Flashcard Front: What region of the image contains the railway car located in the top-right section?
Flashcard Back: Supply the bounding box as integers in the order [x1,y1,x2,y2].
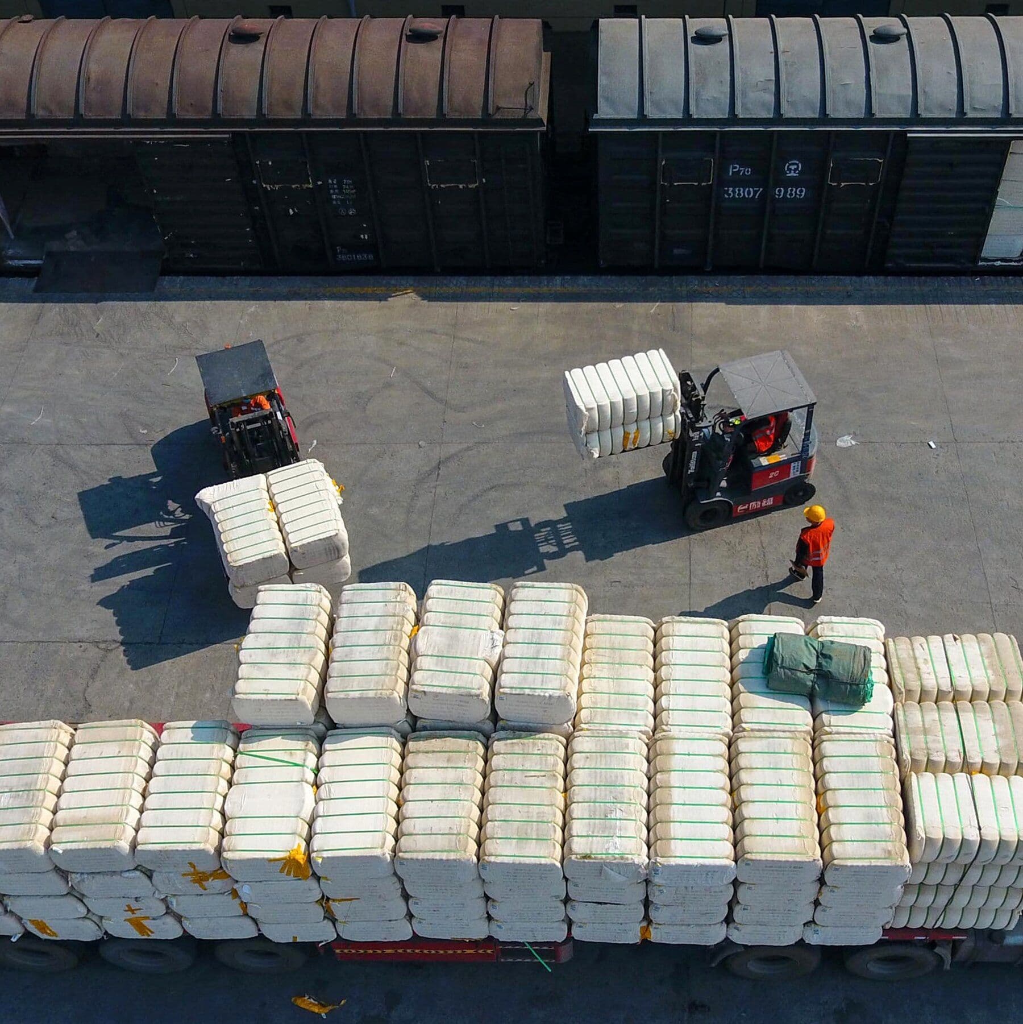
[578,10,1023,276]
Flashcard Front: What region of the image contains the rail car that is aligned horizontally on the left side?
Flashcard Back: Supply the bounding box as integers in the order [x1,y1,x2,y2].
[0,8,597,276]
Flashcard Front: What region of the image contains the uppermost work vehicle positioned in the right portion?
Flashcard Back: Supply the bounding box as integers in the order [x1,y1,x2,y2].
[661,346,823,530]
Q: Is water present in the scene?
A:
No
